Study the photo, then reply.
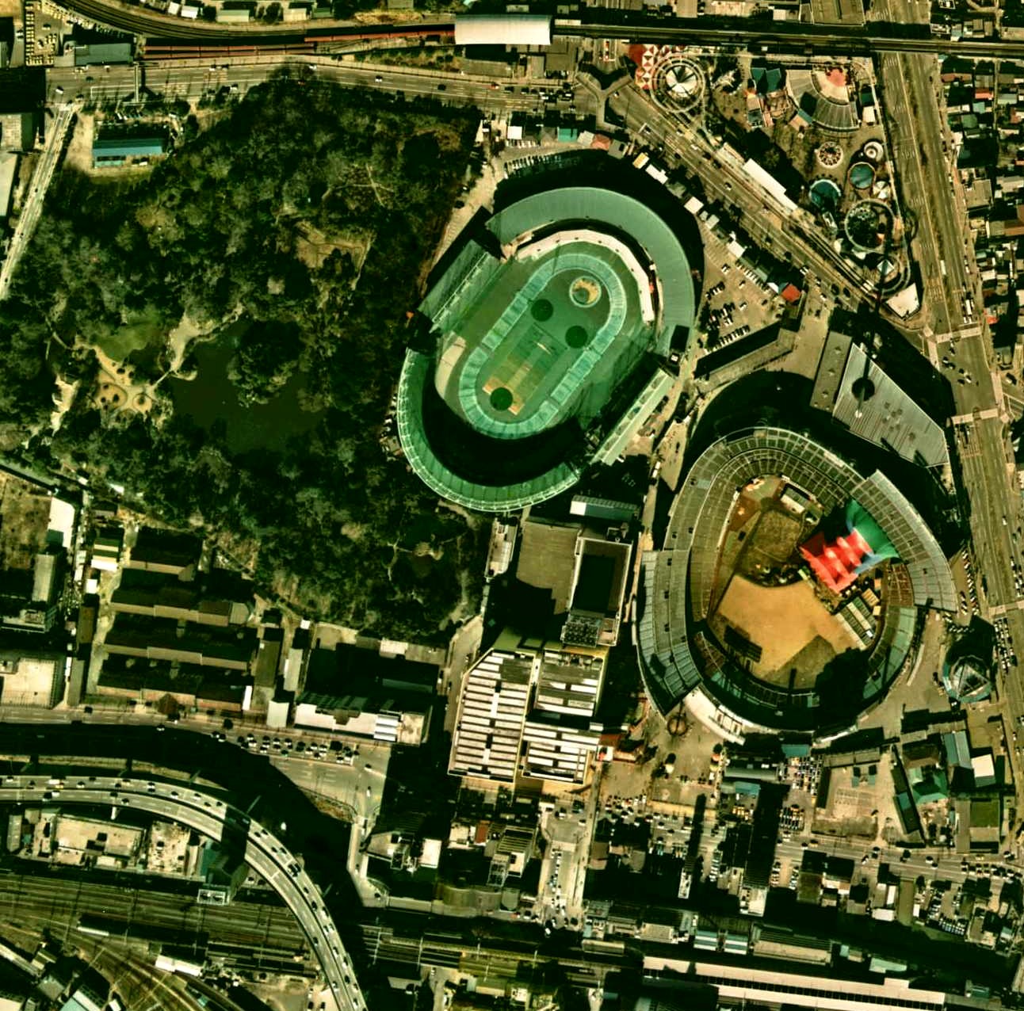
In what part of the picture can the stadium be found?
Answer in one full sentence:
The stadium sits in the right section of the image.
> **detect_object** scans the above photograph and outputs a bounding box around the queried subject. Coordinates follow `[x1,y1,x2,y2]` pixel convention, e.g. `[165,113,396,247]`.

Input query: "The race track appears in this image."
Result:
[396,187,697,512]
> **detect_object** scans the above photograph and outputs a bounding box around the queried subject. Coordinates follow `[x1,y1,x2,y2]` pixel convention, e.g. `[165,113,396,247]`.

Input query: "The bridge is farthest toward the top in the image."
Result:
[549,24,1024,57]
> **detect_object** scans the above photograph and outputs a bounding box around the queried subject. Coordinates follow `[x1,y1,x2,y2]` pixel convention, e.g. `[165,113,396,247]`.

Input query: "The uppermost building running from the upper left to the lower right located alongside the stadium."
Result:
[833,340,949,469]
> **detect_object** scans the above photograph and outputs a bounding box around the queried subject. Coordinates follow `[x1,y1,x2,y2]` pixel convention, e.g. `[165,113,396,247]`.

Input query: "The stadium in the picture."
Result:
[636,421,958,746]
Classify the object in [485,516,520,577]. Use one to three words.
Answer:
building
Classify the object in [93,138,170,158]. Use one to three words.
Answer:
house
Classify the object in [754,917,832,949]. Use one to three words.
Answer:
building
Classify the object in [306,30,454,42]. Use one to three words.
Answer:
train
